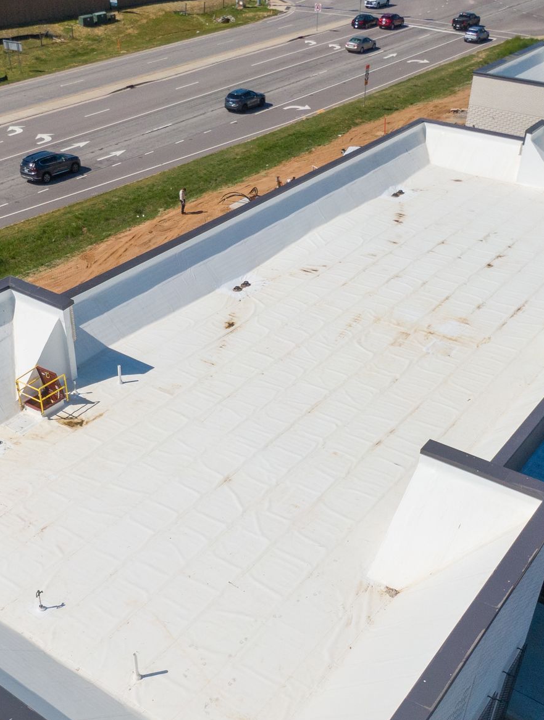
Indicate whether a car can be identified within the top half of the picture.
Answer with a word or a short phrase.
Yes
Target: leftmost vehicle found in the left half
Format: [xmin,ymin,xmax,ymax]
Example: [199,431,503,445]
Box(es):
[19,149,83,181]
